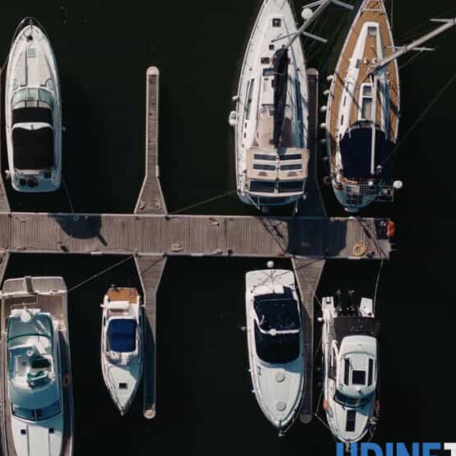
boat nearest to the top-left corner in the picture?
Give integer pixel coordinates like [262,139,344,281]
[5,18,62,193]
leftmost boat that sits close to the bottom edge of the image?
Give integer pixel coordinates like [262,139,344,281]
[0,275,74,456]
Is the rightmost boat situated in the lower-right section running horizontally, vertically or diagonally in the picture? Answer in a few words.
vertically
